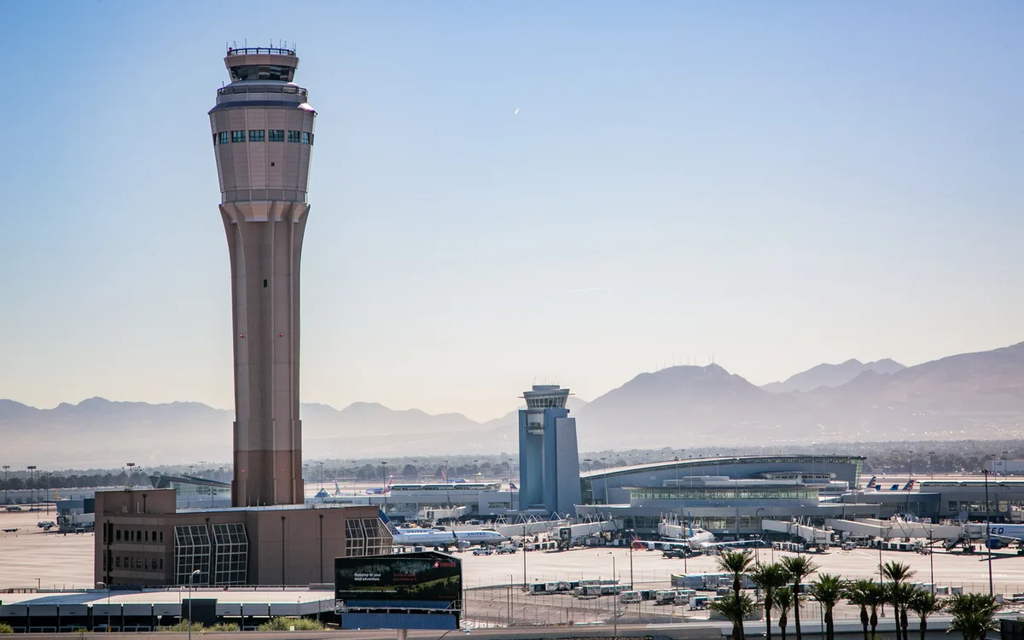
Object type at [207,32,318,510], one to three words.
building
